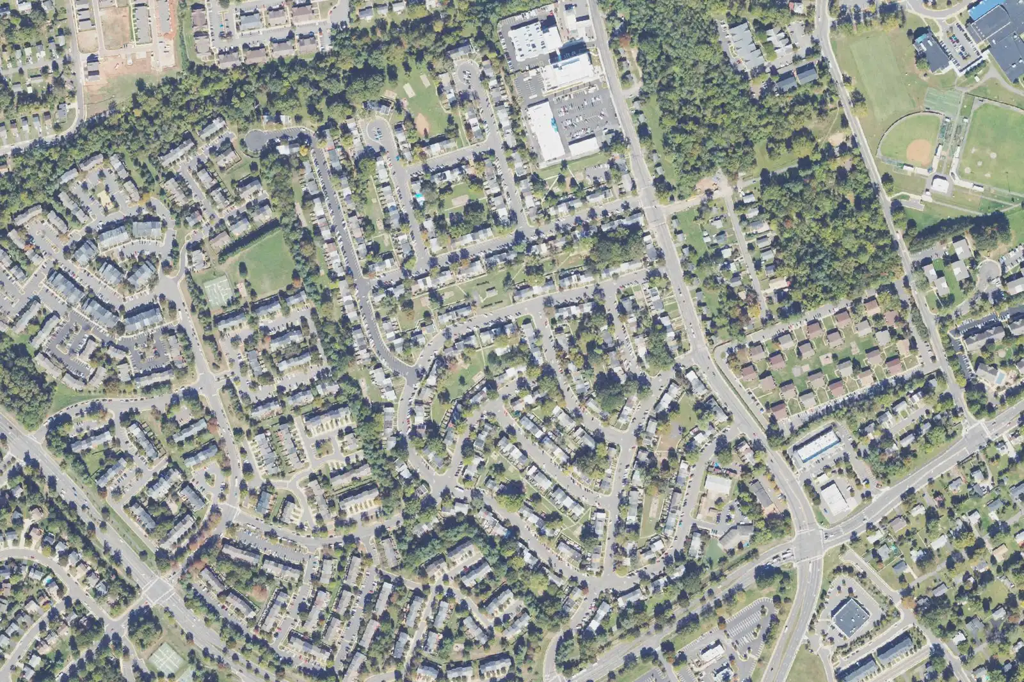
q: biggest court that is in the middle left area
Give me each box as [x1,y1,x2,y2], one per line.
[204,276,233,309]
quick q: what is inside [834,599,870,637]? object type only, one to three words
building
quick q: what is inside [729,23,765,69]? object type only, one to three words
building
